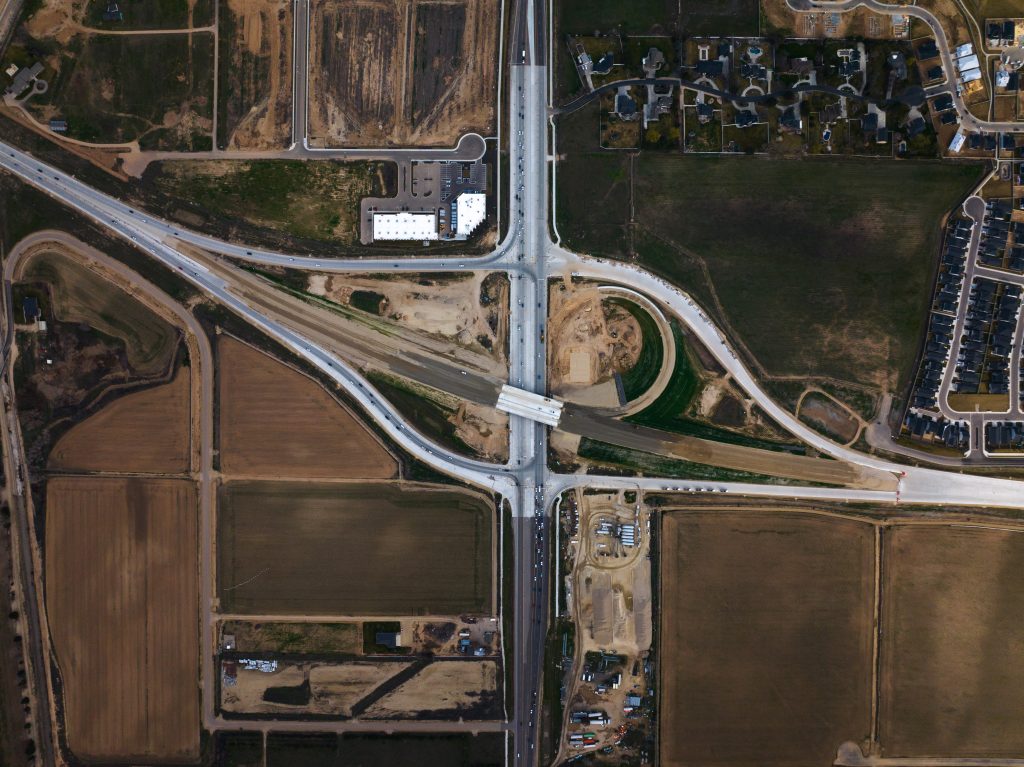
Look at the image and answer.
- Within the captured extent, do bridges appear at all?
Yes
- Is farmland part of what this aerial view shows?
Yes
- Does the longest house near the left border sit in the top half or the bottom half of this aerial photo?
top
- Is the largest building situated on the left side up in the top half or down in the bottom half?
top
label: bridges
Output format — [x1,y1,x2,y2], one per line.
[496,376,564,434]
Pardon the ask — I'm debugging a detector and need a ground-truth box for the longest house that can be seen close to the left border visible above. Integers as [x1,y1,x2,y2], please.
[8,63,39,96]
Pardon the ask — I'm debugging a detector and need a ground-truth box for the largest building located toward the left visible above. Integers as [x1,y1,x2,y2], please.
[373,211,438,239]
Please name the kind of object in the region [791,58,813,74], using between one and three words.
house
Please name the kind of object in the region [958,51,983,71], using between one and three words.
house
